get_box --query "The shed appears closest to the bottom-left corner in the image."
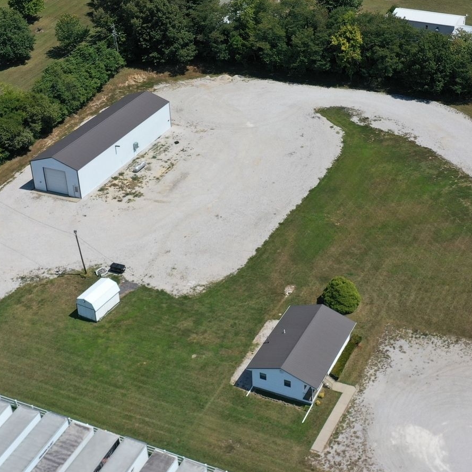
[76,282,120,322]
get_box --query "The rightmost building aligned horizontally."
[395,10,468,36]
